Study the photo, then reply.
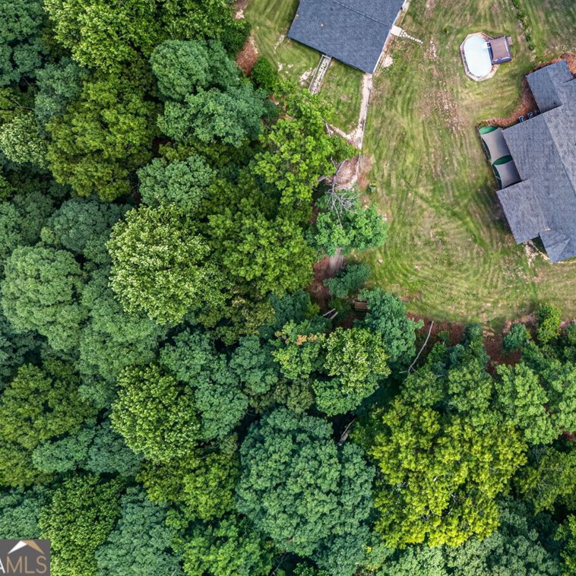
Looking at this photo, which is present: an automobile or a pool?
pool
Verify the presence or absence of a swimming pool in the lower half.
No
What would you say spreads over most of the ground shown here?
trees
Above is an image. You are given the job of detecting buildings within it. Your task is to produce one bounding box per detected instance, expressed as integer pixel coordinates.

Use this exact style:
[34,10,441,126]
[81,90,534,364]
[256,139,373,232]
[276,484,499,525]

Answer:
[495,58,576,265]
[286,0,404,74]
